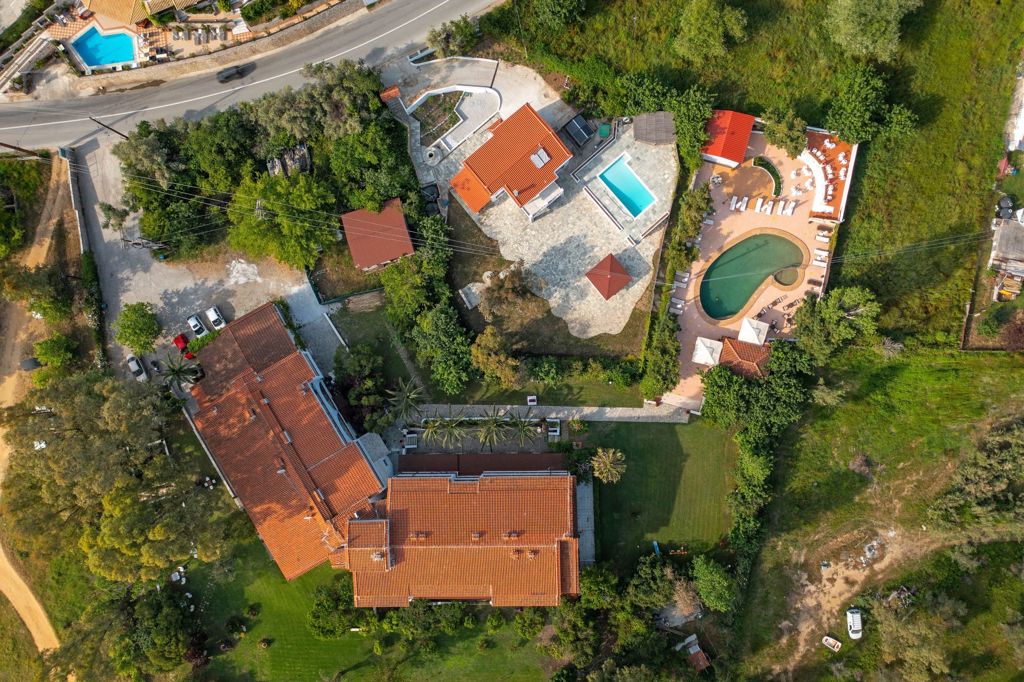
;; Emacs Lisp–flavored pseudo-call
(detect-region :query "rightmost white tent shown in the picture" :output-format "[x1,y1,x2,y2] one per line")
[738,317,769,345]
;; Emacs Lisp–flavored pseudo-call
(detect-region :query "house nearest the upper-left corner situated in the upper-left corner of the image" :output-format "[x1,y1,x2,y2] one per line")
[83,0,155,32]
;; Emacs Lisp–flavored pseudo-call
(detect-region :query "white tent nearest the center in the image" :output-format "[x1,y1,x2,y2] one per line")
[688,337,723,366]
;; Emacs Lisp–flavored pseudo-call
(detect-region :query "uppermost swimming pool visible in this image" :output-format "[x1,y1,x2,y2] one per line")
[66,20,140,69]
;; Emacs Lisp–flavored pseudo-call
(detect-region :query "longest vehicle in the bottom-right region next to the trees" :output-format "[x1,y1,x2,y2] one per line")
[844,607,864,640]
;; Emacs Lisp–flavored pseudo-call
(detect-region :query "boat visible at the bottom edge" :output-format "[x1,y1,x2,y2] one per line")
[822,637,842,652]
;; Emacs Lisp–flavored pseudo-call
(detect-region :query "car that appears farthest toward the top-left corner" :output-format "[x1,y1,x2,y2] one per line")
[218,64,250,85]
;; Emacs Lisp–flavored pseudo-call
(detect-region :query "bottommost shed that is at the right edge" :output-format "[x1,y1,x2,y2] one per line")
[981,219,1024,279]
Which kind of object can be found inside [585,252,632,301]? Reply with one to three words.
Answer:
gazebo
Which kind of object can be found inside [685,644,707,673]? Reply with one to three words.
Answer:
shed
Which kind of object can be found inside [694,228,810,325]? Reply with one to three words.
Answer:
swimming pool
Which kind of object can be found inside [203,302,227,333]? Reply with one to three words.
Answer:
car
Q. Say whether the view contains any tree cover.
Yes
